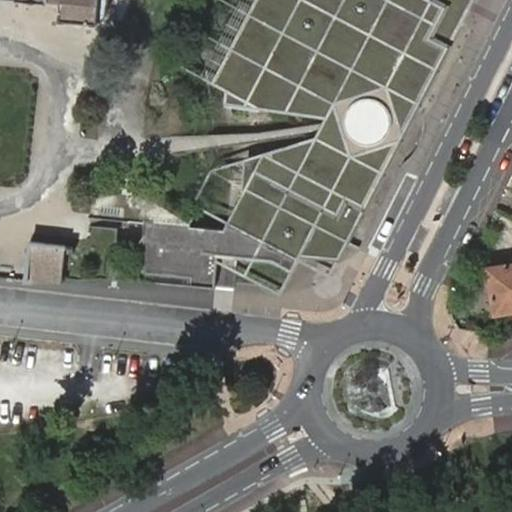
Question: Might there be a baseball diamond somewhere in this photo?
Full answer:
No, there's no baseball diamond here.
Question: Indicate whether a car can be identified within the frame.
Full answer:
Yes, there is a car in the image.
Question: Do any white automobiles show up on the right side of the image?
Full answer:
Yes, the scene does show a white automobile on the right side of the image.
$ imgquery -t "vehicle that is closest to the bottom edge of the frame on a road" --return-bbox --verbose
[260,456,280,472]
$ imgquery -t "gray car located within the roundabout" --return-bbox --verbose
[298,375,316,398]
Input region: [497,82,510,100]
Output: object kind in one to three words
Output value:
vehicle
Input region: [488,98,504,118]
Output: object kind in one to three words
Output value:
car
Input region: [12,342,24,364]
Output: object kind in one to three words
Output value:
vehicle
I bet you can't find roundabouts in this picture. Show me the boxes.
[286,302,462,475]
